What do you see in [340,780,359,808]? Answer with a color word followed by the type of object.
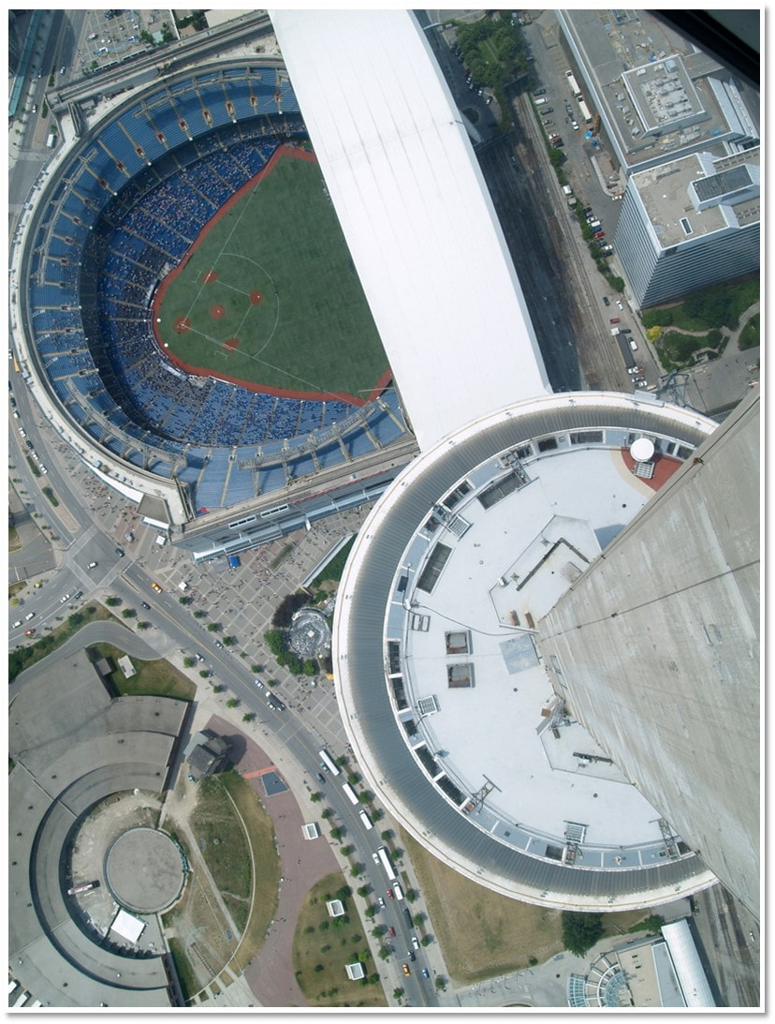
white vehicle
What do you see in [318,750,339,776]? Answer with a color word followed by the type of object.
white bus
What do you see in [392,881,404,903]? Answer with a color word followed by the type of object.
white vehicle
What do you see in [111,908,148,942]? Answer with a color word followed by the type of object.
white tent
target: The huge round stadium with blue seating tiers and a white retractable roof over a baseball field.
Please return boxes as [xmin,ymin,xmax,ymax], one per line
[5,0,554,559]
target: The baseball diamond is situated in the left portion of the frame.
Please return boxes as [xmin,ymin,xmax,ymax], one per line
[154,146,395,405]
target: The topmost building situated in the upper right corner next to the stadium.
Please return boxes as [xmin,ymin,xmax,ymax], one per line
[549,0,756,191]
